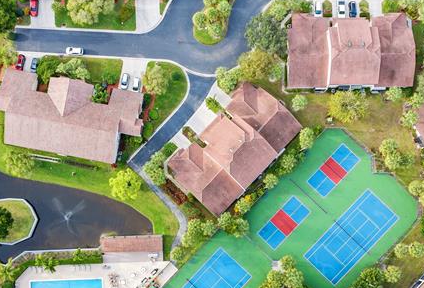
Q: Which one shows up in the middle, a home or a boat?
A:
home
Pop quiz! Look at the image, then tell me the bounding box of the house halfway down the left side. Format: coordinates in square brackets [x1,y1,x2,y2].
[0,69,144,165]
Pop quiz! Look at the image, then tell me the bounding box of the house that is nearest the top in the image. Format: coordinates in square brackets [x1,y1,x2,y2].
[283,12,414,96]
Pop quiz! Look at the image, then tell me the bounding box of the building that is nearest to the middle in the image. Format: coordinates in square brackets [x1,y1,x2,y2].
[169,80,302,218]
